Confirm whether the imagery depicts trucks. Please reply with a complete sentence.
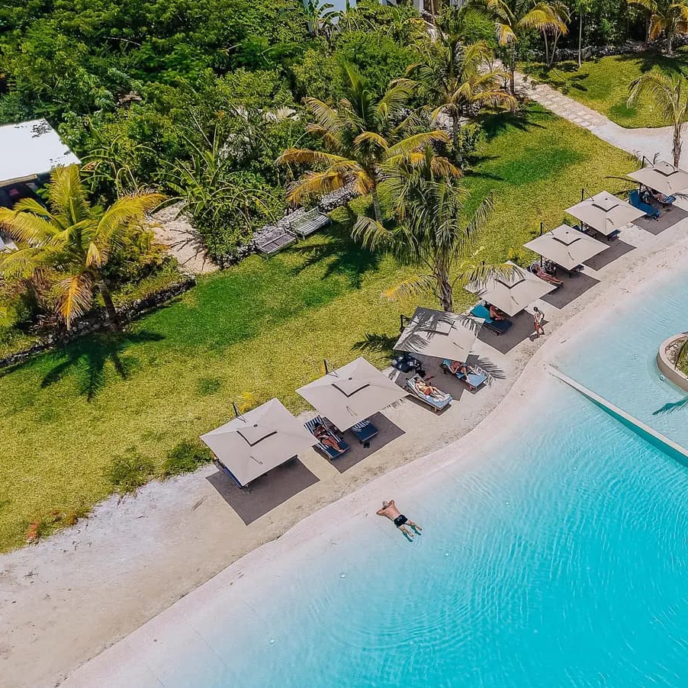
No, the scene contains no truck.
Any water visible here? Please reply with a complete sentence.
Yes, the picture does contain water.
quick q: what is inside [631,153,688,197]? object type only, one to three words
umbrella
